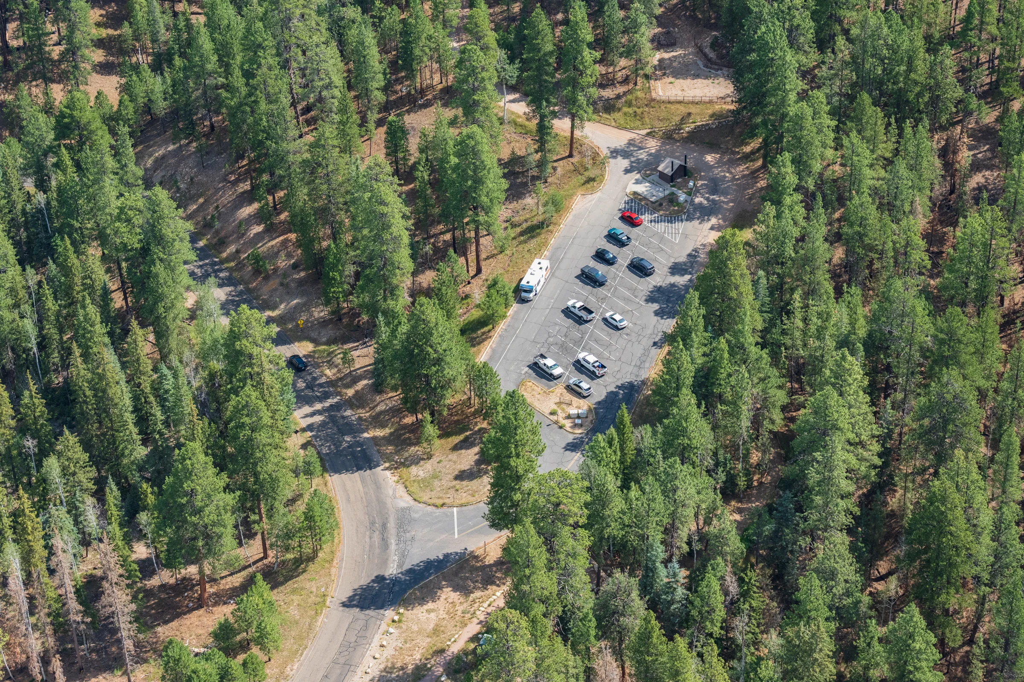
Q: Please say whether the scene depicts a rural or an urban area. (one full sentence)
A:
From above, the setting appears rural.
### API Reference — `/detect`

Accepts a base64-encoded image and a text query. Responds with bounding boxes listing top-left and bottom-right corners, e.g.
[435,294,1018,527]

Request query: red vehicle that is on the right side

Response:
[620,210,644,225]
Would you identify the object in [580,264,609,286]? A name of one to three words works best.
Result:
truck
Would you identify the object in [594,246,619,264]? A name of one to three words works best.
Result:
car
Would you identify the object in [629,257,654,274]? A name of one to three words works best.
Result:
car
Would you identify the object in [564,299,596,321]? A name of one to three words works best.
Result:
truck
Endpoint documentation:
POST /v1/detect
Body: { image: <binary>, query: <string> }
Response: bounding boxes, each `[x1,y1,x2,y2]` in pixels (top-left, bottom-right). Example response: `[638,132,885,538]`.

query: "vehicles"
[564,299,596,321]
[620,210,644,225]
[534,354,565,379]
[594,246,619,264]
[580,264,609,286]
[629,257,654,274]
[566,378,594,397]
[521,260,548,298]
[574,353,608,376]
[603,311,628,329]
[605,226,632,244]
